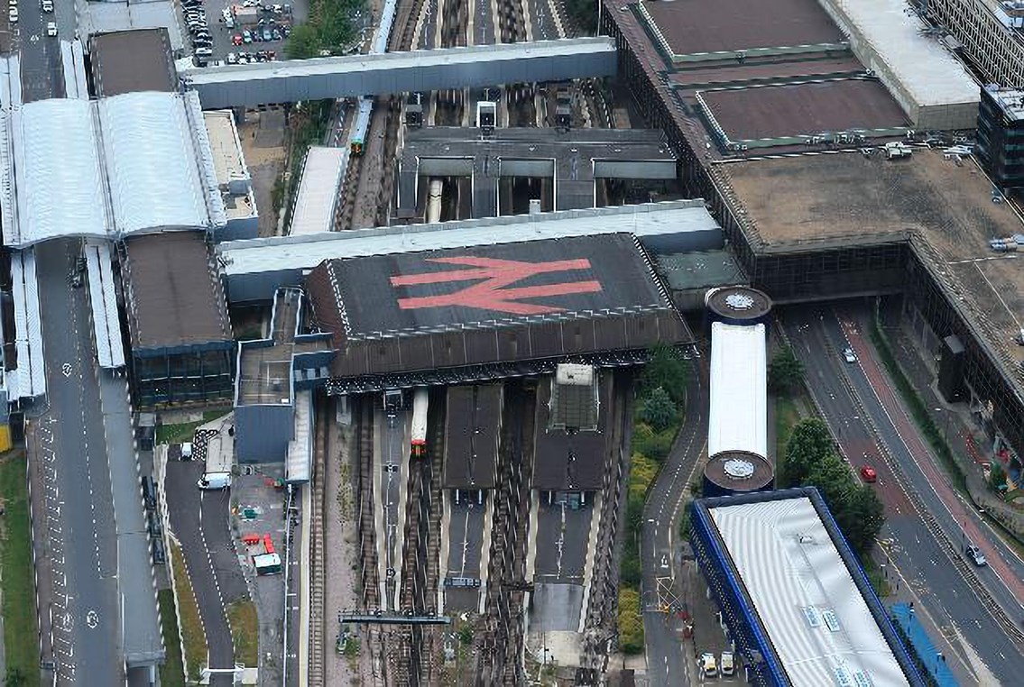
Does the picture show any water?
No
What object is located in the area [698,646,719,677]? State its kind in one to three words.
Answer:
vehicle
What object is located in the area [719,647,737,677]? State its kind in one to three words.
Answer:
vehicle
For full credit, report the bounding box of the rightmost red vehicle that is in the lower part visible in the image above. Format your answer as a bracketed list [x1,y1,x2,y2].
[863,462,875,481]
